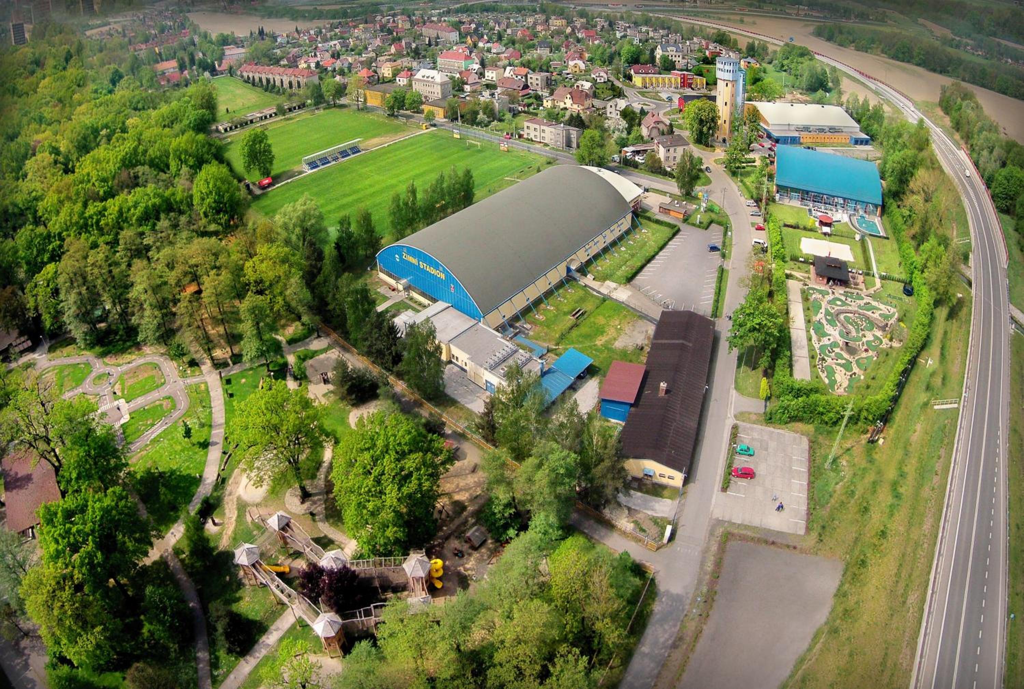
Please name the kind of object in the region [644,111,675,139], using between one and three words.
house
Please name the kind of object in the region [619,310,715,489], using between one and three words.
building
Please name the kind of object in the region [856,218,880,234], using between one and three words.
swimming pool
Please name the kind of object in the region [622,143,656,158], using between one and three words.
shed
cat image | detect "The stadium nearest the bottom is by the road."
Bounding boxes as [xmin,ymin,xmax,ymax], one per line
[367,160,646,328]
